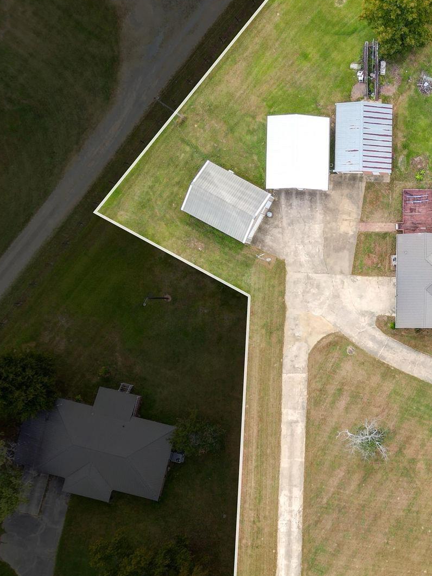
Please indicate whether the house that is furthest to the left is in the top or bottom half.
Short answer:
bottom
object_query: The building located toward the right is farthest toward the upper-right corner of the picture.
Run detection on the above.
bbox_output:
[332,101,393,175]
